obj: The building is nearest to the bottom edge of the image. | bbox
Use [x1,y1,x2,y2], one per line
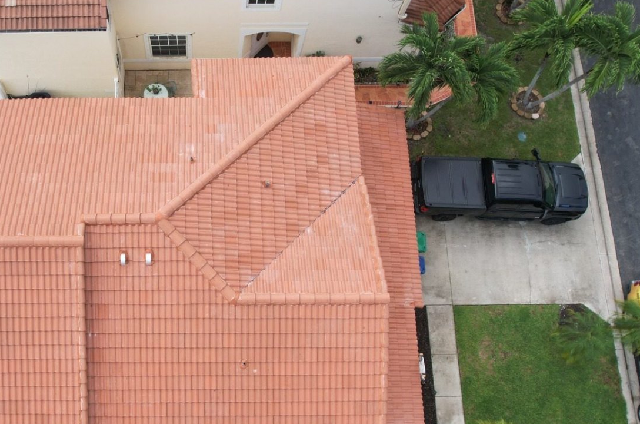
[0,53,426,424]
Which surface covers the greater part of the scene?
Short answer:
buildings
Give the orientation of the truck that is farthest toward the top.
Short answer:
from left to right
